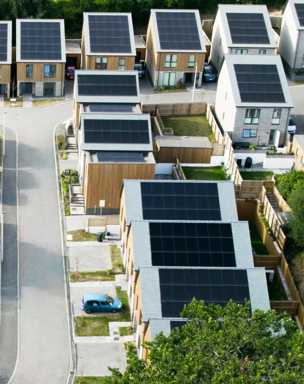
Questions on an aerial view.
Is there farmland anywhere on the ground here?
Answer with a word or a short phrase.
No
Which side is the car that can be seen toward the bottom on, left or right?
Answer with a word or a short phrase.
left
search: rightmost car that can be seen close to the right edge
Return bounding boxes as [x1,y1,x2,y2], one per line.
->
[287,112,302,131]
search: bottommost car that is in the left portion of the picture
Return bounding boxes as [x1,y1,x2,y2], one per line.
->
[80,292,122,313]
